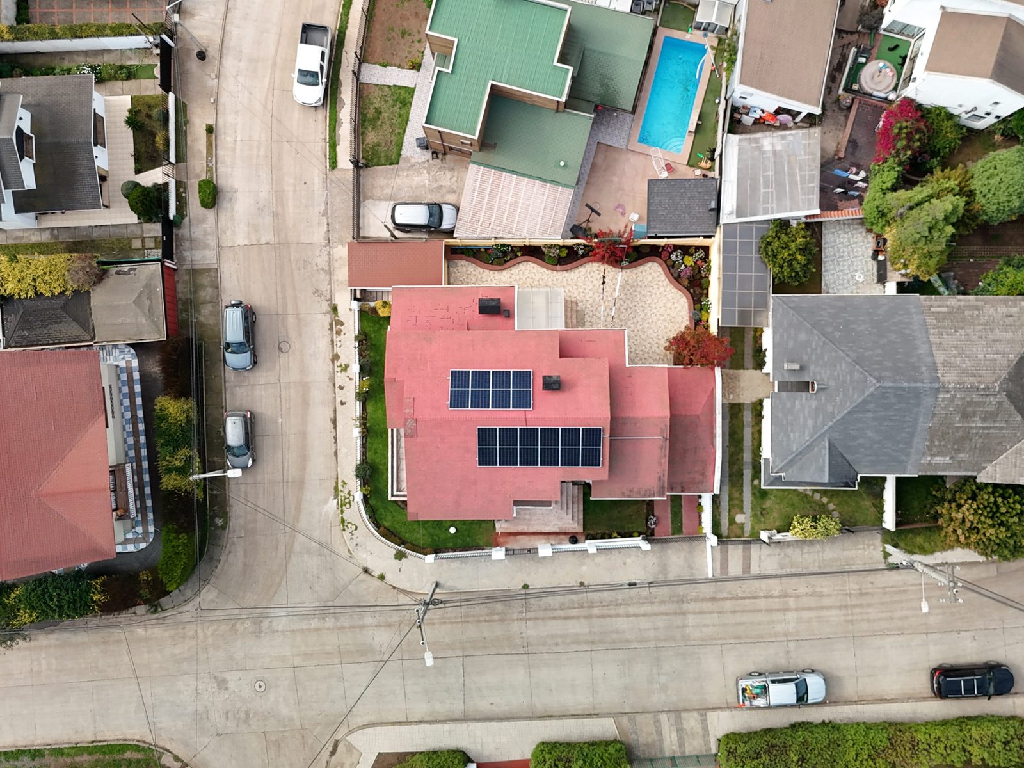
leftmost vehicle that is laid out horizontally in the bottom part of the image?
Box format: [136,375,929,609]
[734,671,826,712]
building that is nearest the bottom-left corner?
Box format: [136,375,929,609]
[0,350,142,580]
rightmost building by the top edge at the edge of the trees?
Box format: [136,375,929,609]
[880,0,1024,121]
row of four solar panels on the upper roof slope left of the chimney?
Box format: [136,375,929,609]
[448,369,533,410]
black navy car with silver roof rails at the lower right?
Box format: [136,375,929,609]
[928,661,1015,703]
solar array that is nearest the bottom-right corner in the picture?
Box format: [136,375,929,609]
[476,427,604,467]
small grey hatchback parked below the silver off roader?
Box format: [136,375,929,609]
[219,409,255,470]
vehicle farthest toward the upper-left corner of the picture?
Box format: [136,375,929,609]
[289,19,330,105]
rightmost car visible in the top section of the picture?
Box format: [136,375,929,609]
[391,197,460,235]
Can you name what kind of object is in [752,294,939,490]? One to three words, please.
house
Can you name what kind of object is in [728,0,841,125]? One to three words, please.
house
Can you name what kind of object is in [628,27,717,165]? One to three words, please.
swimming pool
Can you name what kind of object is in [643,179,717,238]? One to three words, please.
shed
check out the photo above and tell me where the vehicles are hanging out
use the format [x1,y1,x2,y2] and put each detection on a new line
[289,19,330,105]
[219,409,255,470]
[928,661,1015,703]
[734,671,826,712]
[391,197,460,235]
[218,298,256,370]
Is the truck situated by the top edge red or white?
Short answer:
white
